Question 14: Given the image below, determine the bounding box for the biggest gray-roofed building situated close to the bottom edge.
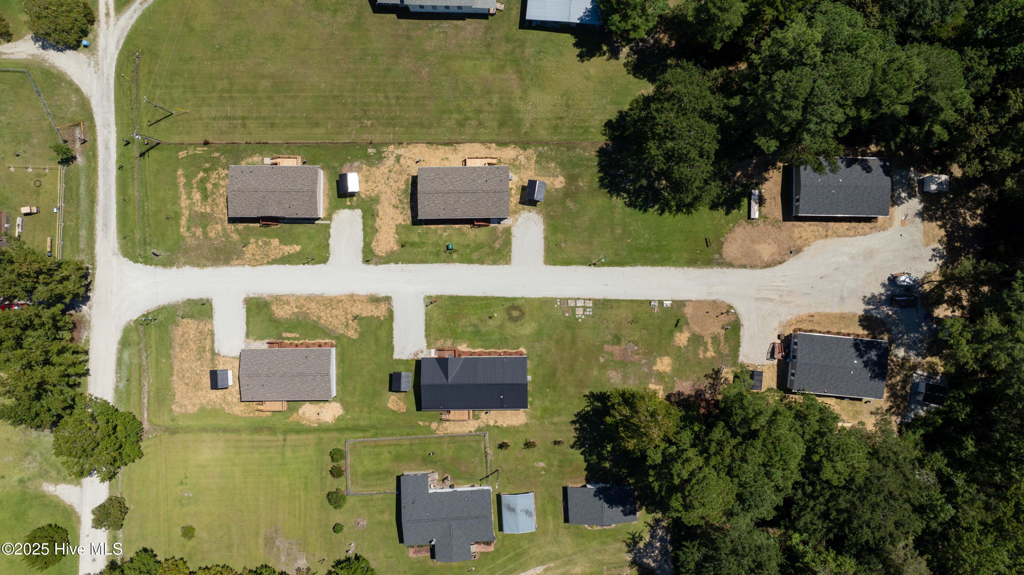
[401,472,493,564]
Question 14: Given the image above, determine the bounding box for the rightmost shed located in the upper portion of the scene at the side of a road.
[923,175,949,191]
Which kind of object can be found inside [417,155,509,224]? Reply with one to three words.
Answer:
house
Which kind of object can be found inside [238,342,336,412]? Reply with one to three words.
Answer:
house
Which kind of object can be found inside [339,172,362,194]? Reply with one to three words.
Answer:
shed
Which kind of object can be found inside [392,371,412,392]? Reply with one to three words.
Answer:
shed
